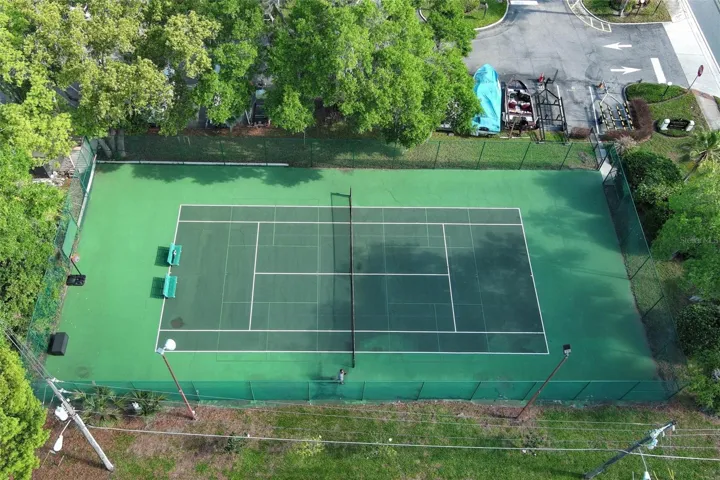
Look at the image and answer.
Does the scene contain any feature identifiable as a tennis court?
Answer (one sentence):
Yes, a tennis court can be made out from above.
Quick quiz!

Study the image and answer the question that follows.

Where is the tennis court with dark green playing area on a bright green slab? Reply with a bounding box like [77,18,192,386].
[49,163,662,384]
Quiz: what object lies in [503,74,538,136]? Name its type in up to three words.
boat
